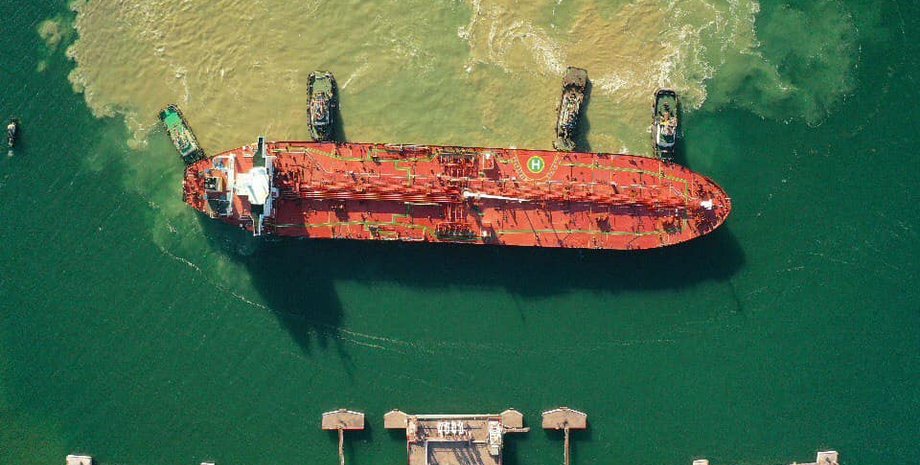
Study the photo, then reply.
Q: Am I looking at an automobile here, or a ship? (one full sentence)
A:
It is a ship that can be seen here.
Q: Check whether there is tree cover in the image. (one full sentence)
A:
No, tree cover can't be seen anywhere here.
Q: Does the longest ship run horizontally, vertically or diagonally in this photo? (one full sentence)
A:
In this picture, the longest ship lies horizontally.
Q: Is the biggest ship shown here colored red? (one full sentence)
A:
Yes, red is the color of the biggest ship.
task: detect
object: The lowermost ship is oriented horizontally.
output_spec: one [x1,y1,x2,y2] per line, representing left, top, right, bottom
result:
[182,137,734,250]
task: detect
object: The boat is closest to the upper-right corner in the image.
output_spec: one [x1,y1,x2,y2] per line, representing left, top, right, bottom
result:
[650,89,681,163]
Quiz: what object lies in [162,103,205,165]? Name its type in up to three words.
boat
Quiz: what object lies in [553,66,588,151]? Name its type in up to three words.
boat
